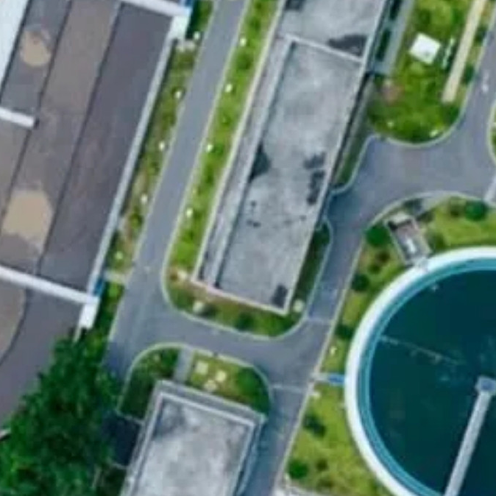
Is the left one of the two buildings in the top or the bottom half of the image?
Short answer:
bottom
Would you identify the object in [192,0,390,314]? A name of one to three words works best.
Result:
building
